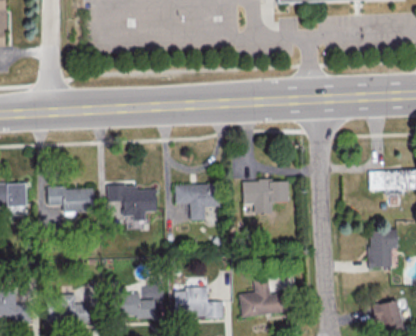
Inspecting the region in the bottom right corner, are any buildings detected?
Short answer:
Yes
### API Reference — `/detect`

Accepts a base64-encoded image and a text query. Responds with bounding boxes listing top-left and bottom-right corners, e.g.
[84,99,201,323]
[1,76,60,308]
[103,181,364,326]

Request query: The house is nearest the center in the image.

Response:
[175,184,218,221]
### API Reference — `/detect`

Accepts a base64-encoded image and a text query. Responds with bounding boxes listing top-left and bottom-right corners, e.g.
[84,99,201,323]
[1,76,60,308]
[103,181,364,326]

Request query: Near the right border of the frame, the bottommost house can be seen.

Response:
[373,300,404,328]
